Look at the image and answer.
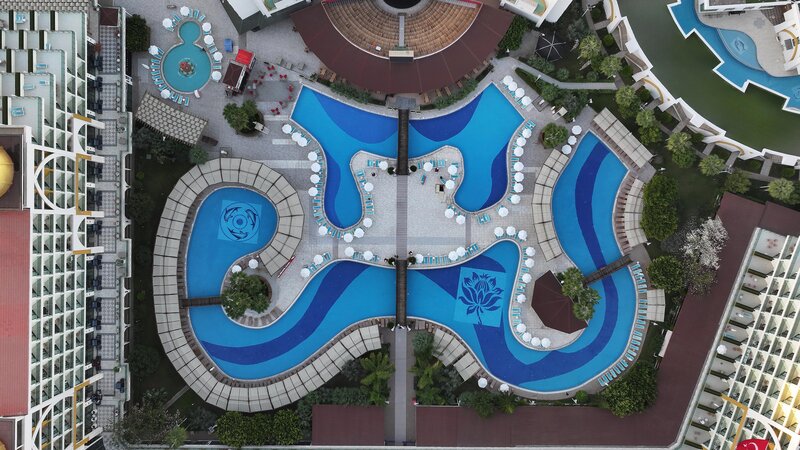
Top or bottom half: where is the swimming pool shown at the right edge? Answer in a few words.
top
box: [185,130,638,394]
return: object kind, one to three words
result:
swimming pool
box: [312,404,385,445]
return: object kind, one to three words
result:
building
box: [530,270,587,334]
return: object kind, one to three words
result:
building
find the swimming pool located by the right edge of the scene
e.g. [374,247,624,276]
[667,0,800,115]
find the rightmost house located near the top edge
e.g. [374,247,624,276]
[760,5,800,71]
